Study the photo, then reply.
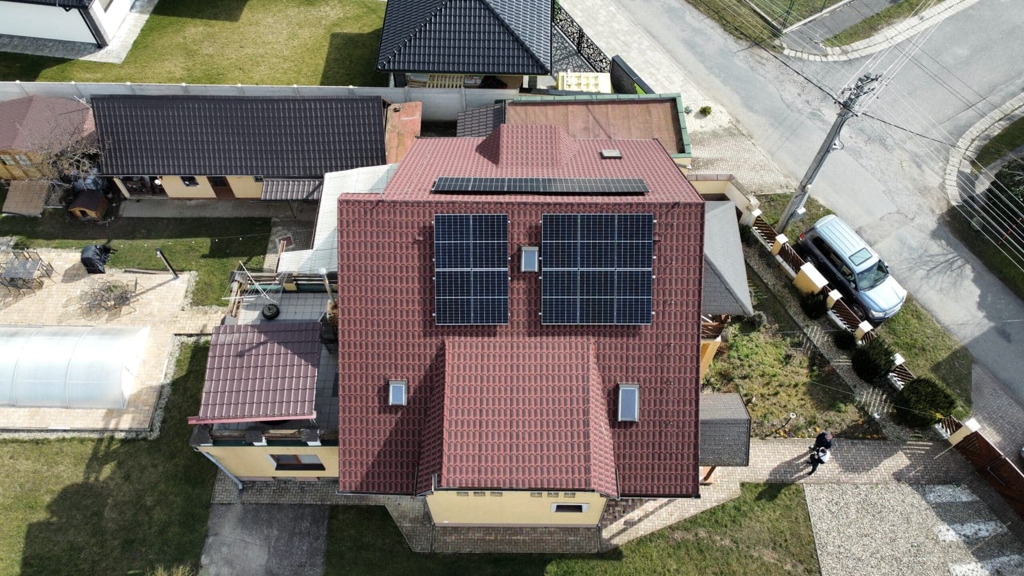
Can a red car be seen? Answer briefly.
No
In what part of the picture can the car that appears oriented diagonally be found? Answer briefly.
right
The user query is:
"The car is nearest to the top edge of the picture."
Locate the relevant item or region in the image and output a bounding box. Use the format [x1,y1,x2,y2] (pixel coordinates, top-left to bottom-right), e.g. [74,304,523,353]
[803,216,908,321]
